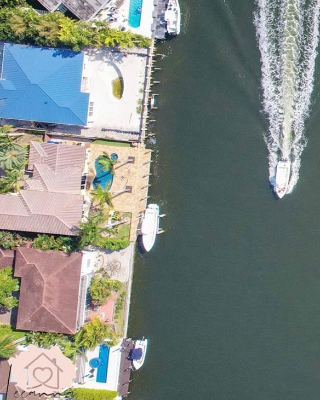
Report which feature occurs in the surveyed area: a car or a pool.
pool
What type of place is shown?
residential area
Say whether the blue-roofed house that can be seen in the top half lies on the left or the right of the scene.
left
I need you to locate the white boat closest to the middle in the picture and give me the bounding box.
[140,204,159,252]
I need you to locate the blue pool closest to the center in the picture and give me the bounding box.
[92,152,118,192]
